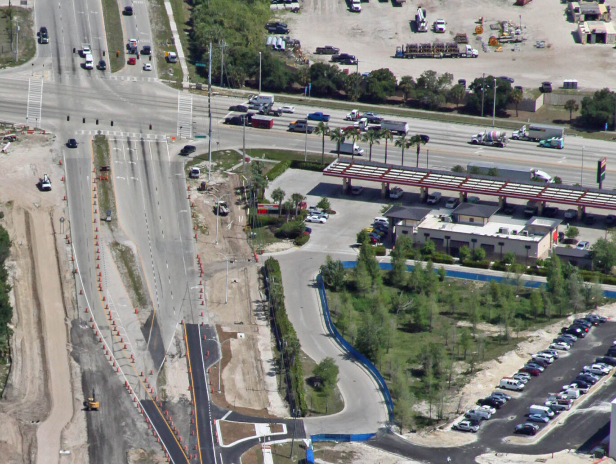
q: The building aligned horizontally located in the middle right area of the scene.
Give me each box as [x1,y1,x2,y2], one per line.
[388,194,561,262]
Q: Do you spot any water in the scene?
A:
No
